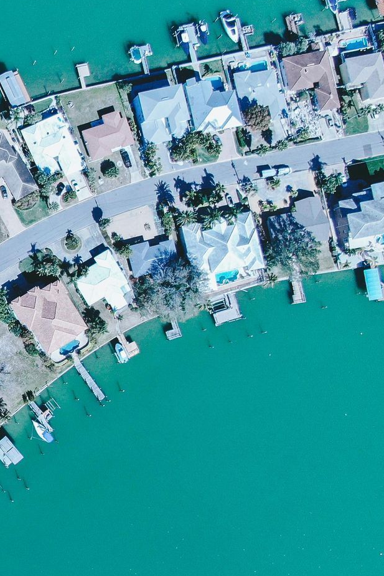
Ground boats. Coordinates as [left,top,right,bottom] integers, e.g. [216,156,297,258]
[116,343,130,366]
[328,0,338,12]
[34,418,55,444]
[131,42,142,63]
[349,5,357,20]
[177,26,191,54]
[198,19,210,44]
[216,8,239,42]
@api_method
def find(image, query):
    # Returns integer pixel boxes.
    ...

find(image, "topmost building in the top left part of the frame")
[0,70,22,109]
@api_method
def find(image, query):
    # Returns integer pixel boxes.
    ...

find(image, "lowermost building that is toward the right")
[356,269,380,299]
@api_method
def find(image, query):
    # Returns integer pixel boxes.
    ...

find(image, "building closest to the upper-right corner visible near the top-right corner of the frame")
[336,51,384,102]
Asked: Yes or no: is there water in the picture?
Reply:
Yes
